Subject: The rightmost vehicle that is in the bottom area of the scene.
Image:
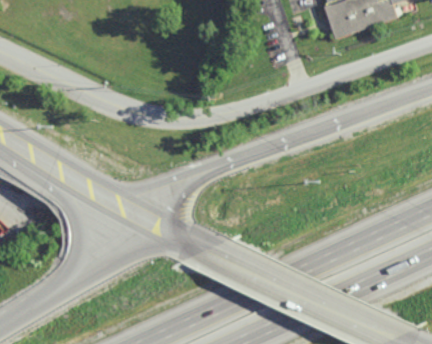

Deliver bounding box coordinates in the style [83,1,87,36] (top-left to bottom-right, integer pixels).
[385,256,421,276]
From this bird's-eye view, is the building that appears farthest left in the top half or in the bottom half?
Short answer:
top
